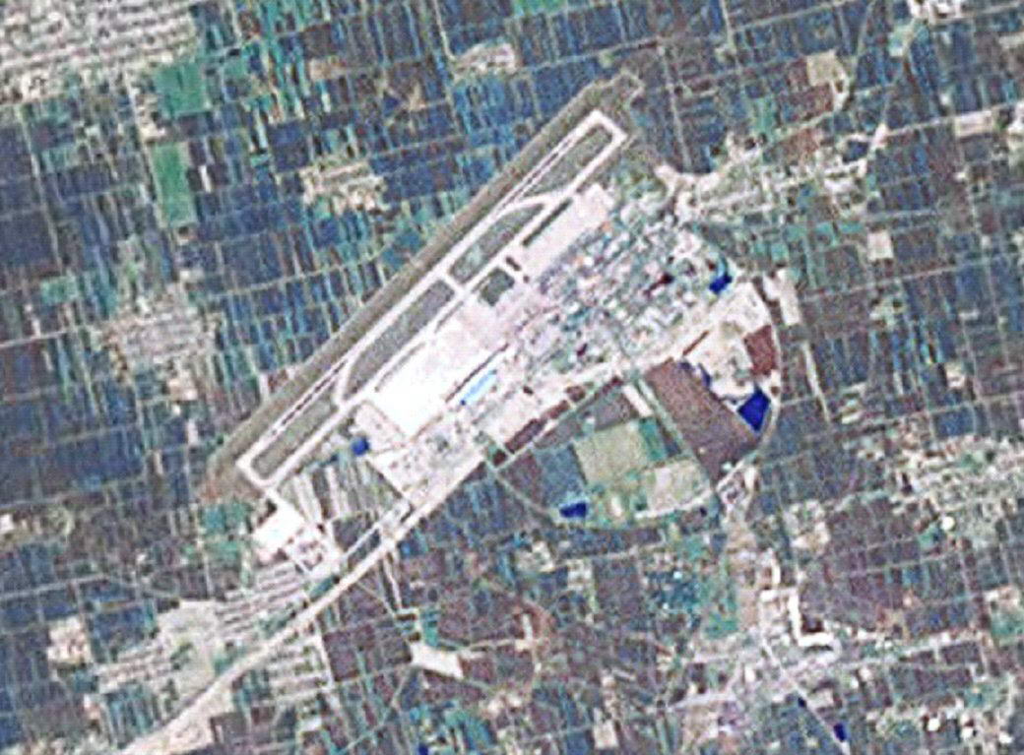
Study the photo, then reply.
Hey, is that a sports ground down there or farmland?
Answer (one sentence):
What you see here is farmland.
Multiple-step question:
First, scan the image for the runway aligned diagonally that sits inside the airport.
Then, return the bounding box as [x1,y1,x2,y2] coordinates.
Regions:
[236,112,600,464]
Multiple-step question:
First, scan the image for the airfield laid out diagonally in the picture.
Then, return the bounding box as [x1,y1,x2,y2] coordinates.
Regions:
[200,70,643,545]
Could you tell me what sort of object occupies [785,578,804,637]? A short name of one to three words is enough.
building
